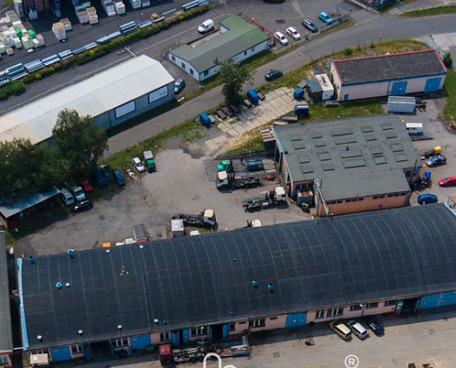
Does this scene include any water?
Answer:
No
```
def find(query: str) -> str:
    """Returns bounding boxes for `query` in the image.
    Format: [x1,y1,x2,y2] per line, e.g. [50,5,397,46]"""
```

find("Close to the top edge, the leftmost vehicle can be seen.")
[198,16,214,33]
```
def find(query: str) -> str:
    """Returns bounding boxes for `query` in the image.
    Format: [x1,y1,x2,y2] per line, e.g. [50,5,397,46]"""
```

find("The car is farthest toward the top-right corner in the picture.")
[317,11,333,25]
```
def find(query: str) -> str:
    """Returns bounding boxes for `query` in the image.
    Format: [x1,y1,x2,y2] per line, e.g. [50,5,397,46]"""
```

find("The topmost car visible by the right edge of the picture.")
[426,155,448,168]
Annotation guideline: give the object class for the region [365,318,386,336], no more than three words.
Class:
car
